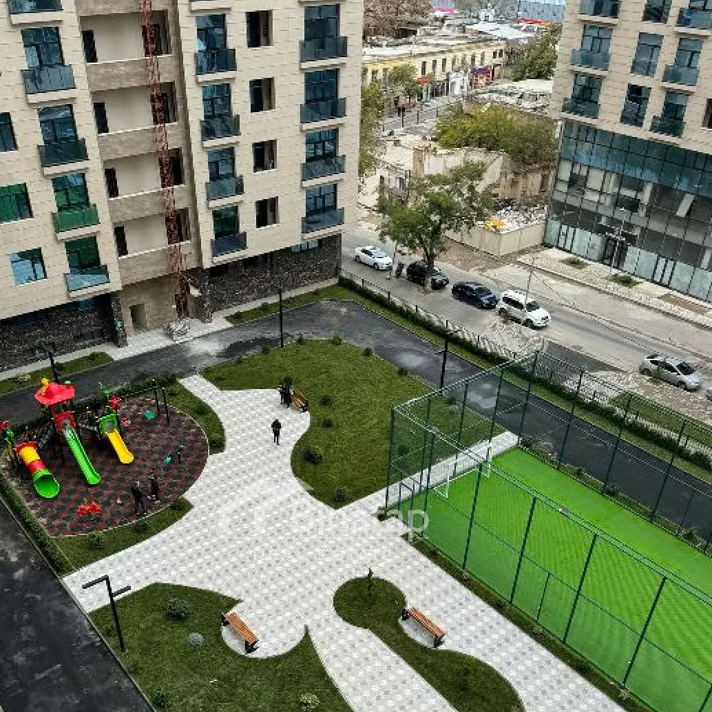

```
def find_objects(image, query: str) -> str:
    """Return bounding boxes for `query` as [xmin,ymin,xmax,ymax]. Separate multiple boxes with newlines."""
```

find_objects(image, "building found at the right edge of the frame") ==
[547,0,712,301]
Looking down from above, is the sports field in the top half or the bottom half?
bottom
